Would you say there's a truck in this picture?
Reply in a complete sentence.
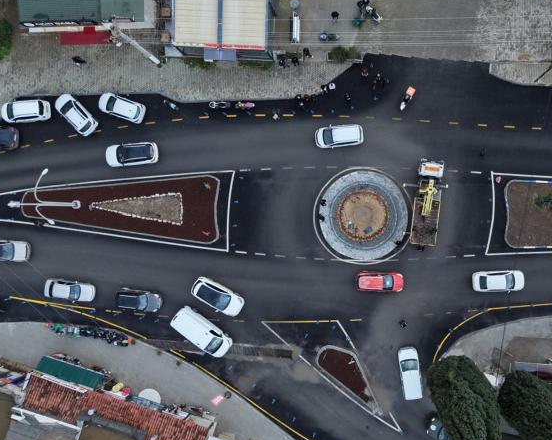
Yes, the frame does contain a truck.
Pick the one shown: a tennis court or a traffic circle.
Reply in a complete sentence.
It is a traffic circle that can be seen here.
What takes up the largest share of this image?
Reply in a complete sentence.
Most of the picture is covered by paved ground.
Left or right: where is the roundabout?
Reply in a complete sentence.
The roundabout sits on the right side.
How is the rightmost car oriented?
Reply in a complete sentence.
What the image shows is the rightmost car lying horizontally.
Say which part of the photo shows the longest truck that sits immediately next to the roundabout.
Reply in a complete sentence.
The longest truck that sits immediately next to the roundabout sits in the right section of the image.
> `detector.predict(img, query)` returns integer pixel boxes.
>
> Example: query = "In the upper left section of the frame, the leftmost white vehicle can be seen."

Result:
[1,98,55,123]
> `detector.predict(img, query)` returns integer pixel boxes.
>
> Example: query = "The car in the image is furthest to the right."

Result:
[470,269,526,294]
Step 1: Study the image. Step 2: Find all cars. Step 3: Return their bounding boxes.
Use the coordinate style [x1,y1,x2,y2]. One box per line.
[97,92,150,124]
[191,276,246,315]
[355,269,407,294]
[114,288,166,315]
[105,142,161,167]
[470,269,526,294]
[1,98,55,123]
[314,125,365,149]
[0,126,23,148]
[44,277,99,303]
[56,91,101,140]
[397,344,423,401]
[0,238,35,262]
